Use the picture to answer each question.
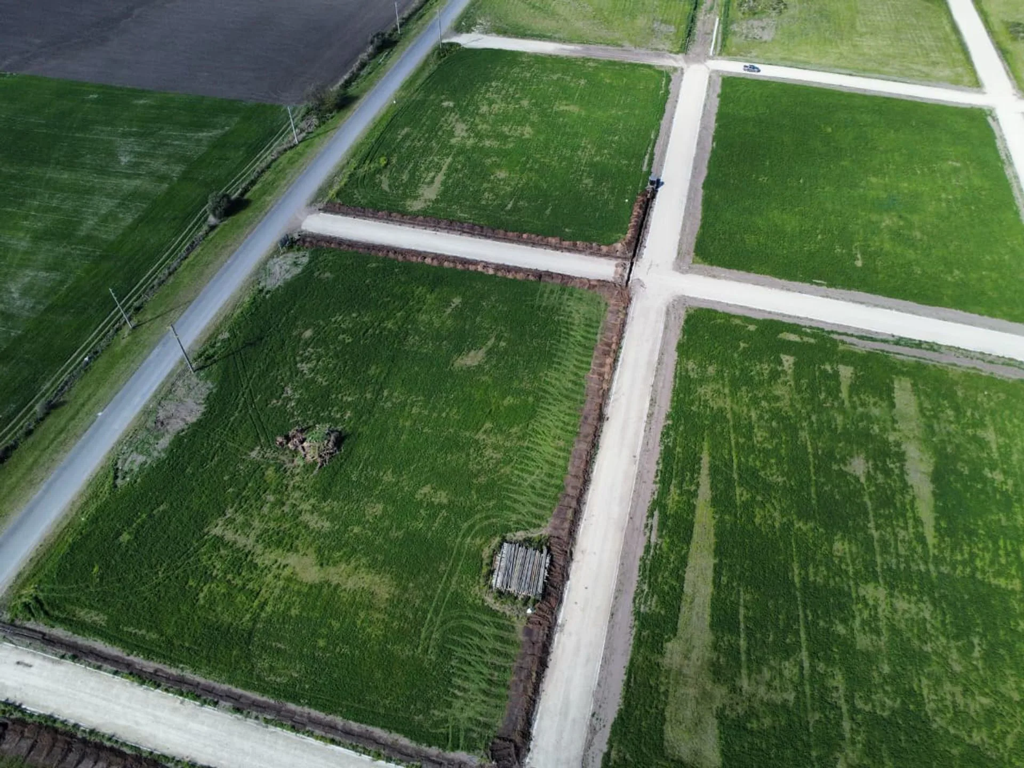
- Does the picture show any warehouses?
No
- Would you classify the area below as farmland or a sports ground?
farmland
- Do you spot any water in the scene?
No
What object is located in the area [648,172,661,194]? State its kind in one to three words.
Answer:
vehicle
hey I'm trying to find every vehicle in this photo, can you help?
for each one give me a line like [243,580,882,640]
[648,172,661,194]
[742,63,762,72]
